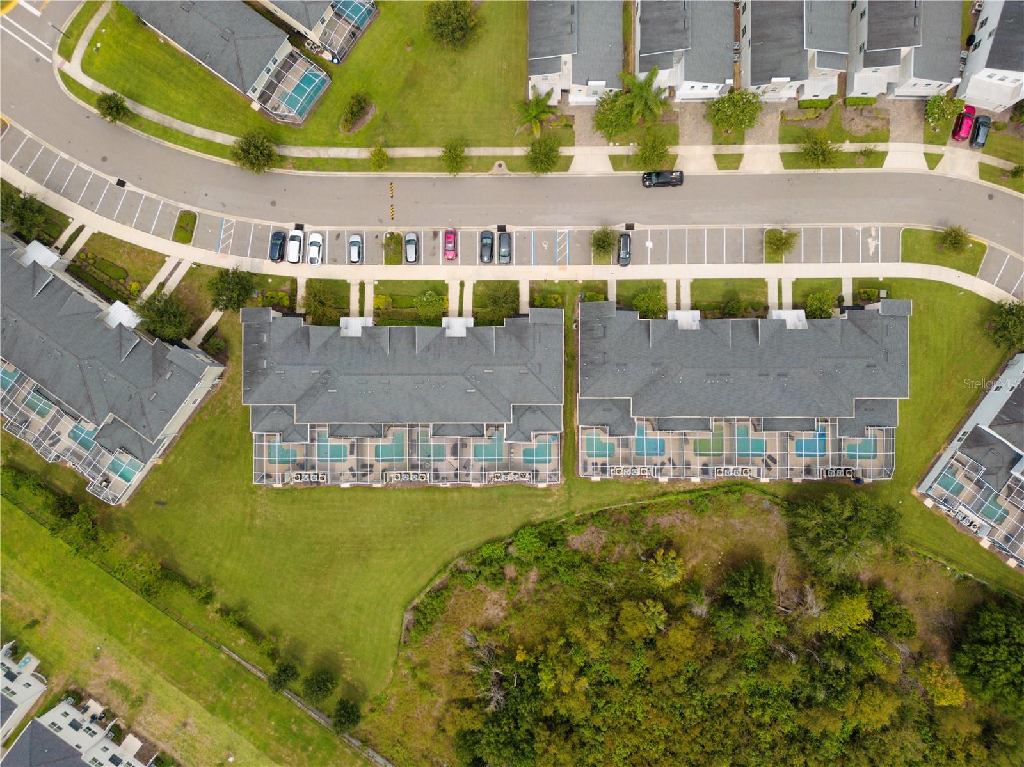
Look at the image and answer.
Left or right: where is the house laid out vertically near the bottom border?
left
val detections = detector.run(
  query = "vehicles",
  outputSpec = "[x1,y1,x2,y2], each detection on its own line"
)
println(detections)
[443,227,457,261]
[479,229,494,263]
[285,228,303,264]
[618,232,634,266]
[402,230,417,263]
[267,229,285,263]
[643,168,686,187]
[972,113,996,148]
[346,232,362,264]
[497,231,512,264]
[306,232,322,266]
[954,105,979,141]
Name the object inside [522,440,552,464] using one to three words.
swimming pool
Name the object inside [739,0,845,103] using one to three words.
house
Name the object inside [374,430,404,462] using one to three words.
swimming pool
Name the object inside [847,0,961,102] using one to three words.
house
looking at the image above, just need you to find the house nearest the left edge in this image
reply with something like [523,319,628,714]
[0,649,47,754]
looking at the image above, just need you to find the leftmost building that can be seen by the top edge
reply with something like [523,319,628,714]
[111,0,298,108]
